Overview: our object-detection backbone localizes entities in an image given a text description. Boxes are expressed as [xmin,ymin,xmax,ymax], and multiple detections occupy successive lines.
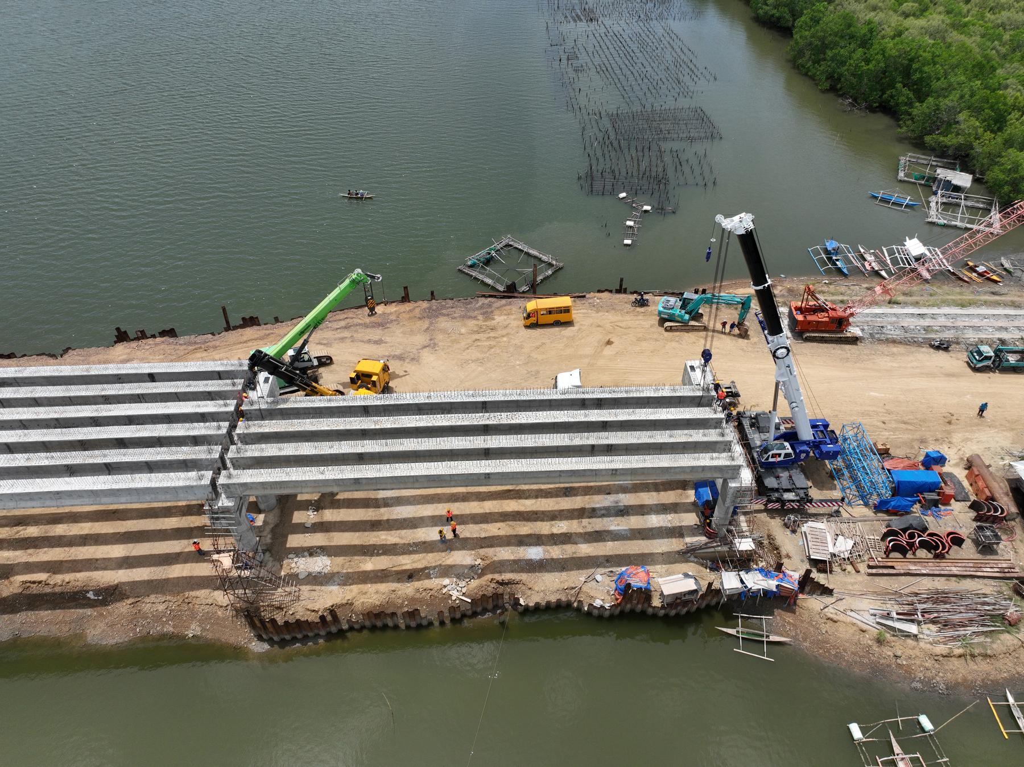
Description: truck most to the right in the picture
[966,337,1024,370]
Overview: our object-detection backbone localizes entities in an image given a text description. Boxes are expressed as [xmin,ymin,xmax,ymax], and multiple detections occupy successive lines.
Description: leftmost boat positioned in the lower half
[716,610,795,659]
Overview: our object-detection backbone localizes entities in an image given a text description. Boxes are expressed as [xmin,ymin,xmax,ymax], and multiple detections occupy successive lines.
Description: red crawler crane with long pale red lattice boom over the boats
[783,192,1024,345]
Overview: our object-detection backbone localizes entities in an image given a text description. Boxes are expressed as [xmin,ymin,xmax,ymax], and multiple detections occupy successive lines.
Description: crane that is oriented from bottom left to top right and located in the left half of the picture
[268,266,386,397]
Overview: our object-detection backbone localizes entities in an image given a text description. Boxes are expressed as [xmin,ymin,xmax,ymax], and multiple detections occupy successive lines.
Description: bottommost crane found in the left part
[243,347,392,419]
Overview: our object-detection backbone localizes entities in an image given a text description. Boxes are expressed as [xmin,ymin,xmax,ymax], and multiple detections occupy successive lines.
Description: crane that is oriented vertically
[698,209,854,530]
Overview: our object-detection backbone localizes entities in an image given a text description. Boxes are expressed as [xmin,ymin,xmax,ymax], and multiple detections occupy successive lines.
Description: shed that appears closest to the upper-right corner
[931,170,984,199]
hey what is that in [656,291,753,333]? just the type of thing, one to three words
work vehicle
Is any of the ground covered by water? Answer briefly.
Yes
